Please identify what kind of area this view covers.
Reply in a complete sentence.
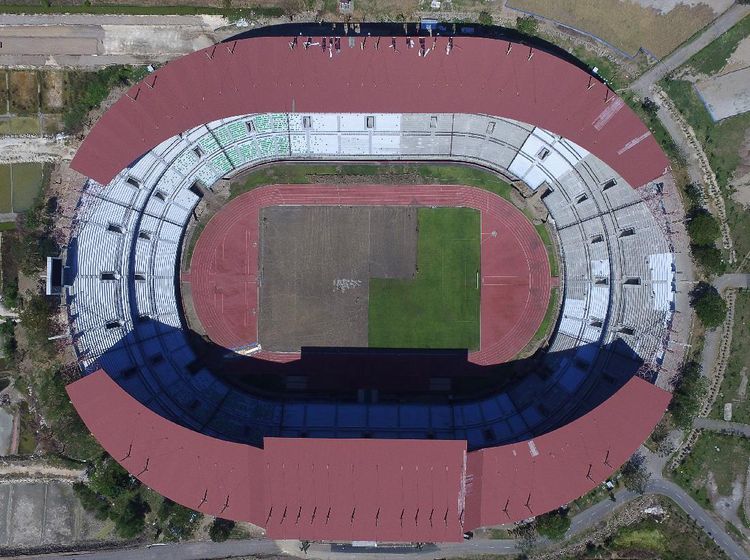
What you see here is a sports ground.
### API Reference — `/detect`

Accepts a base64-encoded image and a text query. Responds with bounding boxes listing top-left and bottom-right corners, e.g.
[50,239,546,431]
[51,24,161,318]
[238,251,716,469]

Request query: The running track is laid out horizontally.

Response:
[179,184,561,371]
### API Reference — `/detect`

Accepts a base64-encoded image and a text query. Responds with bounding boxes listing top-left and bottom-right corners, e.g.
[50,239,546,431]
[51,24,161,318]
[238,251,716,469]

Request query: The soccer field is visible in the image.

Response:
[259,206,480,353]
